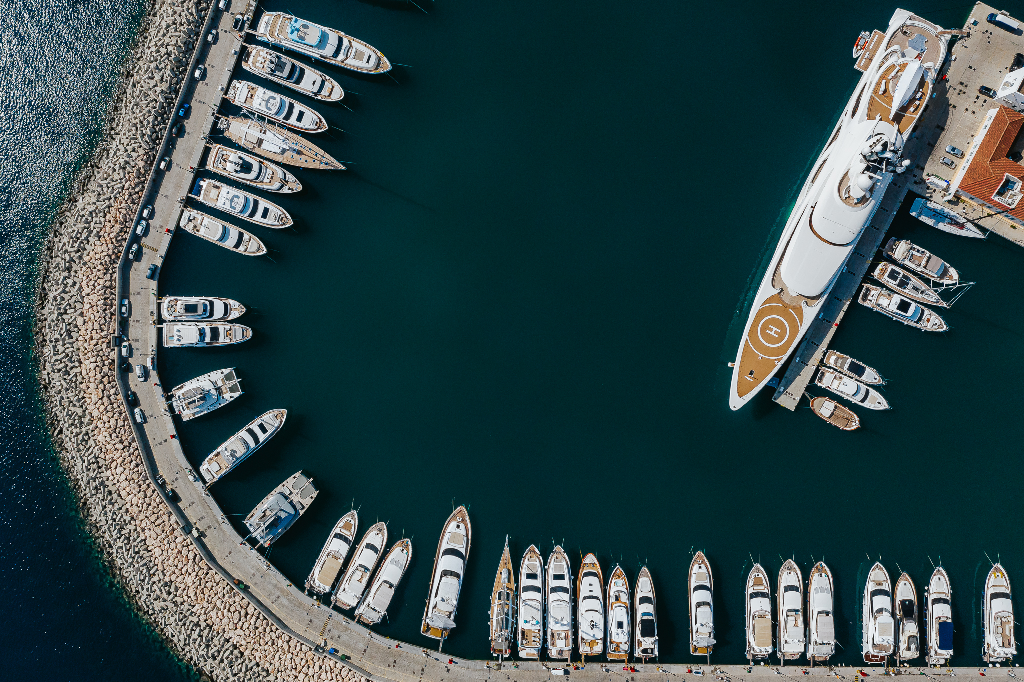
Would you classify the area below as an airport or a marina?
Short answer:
marina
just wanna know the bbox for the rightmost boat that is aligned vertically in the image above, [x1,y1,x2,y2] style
[978,552,1017,671]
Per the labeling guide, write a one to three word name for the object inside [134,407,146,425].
vehicle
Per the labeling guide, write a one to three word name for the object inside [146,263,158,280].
vehicle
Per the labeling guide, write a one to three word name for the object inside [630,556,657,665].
boat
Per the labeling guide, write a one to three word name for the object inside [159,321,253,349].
boat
